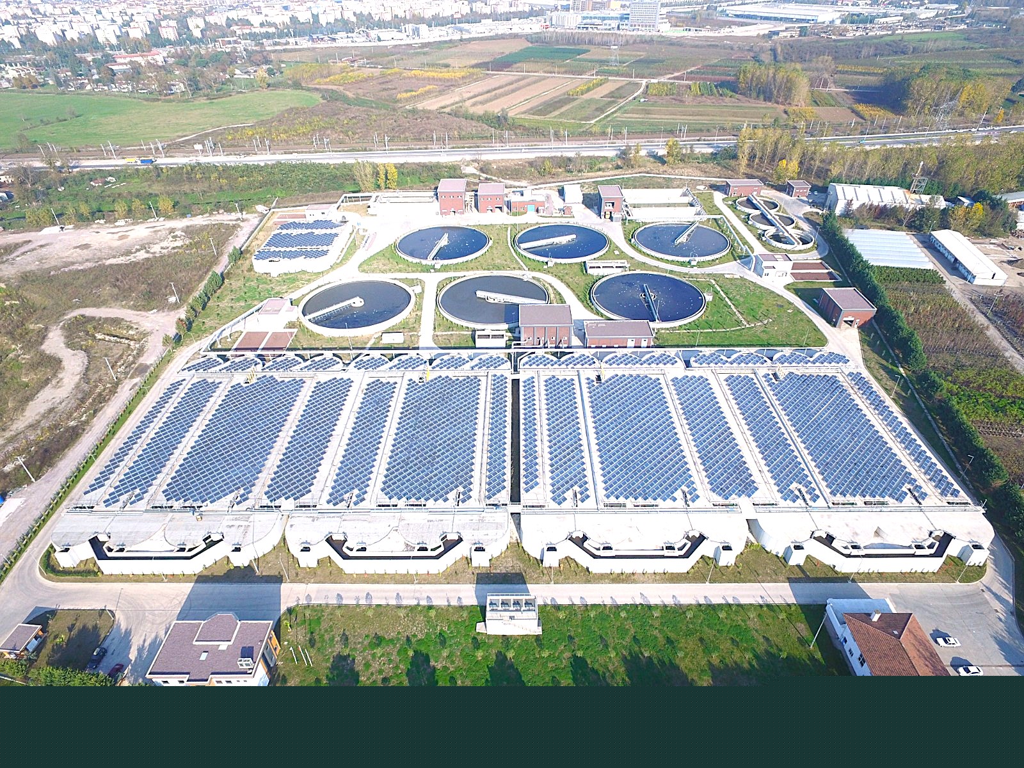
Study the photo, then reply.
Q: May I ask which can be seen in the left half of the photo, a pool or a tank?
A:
tank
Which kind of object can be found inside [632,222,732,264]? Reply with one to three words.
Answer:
storage tank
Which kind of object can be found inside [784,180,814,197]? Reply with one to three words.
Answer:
building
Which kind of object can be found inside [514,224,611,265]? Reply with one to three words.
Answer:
storage tank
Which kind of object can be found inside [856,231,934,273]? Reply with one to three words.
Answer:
greenhouse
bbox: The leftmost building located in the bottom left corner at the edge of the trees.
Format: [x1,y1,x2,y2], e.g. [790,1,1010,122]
[0,622,50,662]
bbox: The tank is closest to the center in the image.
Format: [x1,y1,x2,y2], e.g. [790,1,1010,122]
[436,275,552,331]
